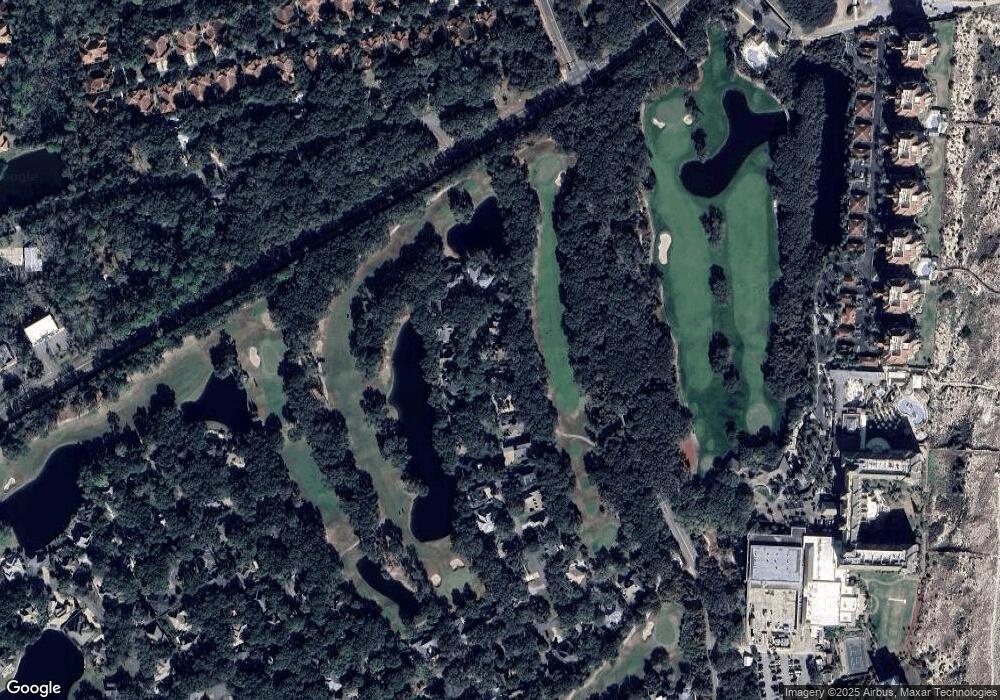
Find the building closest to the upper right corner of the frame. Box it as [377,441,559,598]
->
[892,31,941,68]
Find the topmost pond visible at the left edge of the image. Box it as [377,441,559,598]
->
[0,149,67,214]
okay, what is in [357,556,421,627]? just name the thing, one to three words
pond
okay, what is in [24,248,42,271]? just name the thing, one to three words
building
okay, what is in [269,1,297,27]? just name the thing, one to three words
house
